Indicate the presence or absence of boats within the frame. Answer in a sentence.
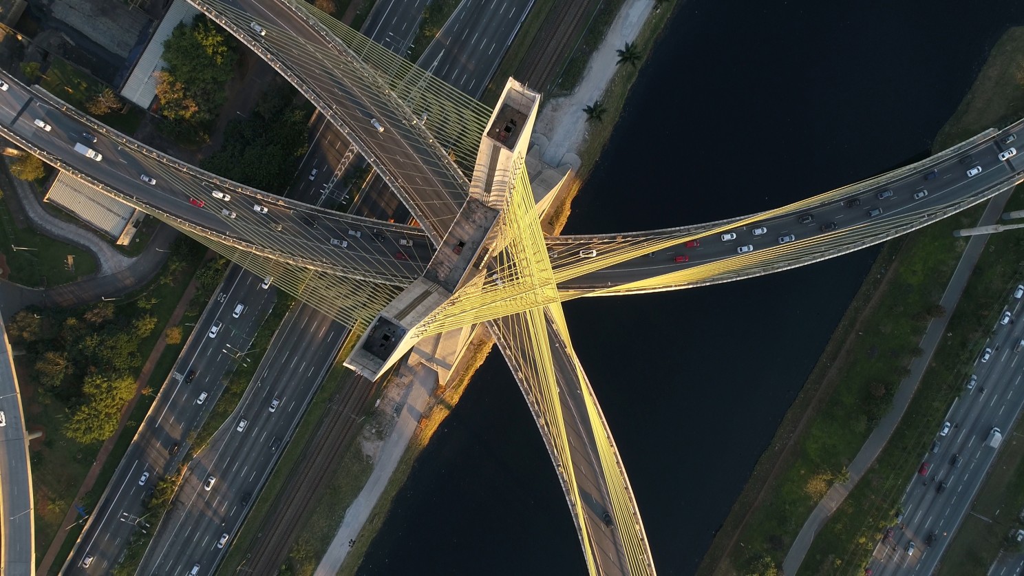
No, there isn't any boat down there.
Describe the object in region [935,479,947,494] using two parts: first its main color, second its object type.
black vehicle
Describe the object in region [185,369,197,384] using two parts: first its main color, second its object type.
black vehicle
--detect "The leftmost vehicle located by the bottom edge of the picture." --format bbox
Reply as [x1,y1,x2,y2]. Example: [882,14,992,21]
[83,553,95,568]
